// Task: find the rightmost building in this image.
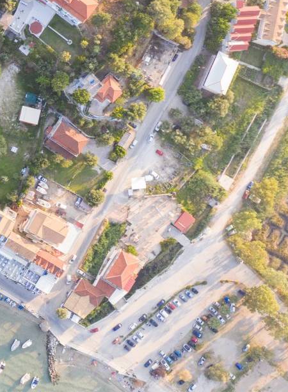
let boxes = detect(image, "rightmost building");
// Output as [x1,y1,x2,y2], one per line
[250,0,288,47]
